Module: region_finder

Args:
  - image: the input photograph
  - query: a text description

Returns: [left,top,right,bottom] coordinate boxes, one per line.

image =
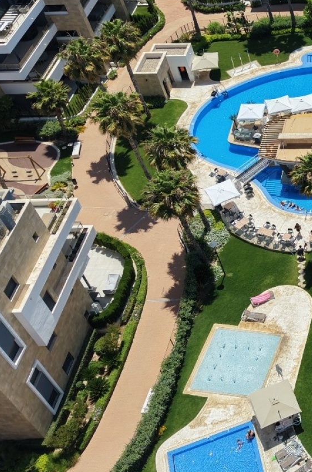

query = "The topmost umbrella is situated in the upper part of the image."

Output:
[190,50,231,77]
